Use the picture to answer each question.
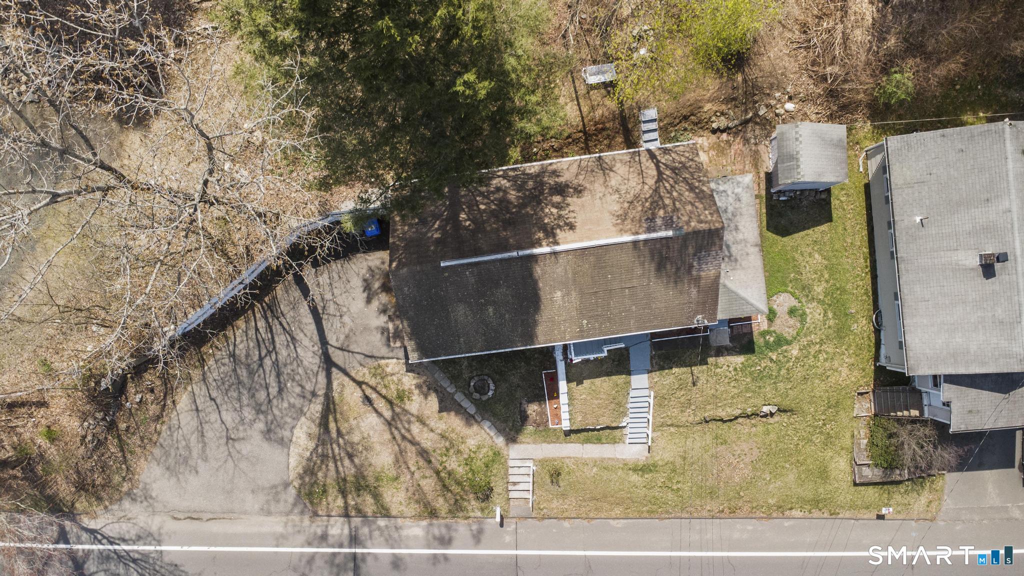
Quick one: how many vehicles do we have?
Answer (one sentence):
There are no vehicles in the image.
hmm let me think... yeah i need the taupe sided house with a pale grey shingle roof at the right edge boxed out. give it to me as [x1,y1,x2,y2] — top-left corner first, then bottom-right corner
[850,122,1024,434]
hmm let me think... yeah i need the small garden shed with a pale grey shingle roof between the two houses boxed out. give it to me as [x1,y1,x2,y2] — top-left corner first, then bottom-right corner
[761,120,846,189]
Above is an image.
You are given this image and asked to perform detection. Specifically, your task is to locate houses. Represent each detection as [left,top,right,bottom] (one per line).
[386,140,769,364]
[850,122,1024,434]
